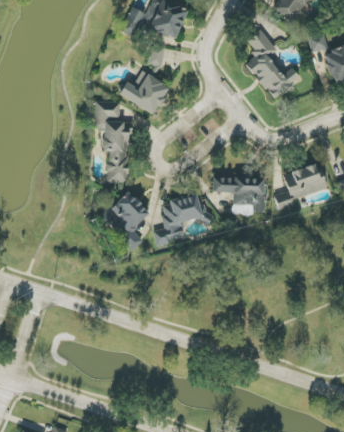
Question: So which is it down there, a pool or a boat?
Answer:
pool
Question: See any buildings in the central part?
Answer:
Yes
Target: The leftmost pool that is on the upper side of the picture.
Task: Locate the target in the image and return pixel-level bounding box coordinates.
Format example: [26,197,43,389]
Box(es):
[92,138,106,182]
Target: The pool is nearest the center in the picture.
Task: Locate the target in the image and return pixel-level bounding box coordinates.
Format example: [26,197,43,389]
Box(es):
[184,224,212,240]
